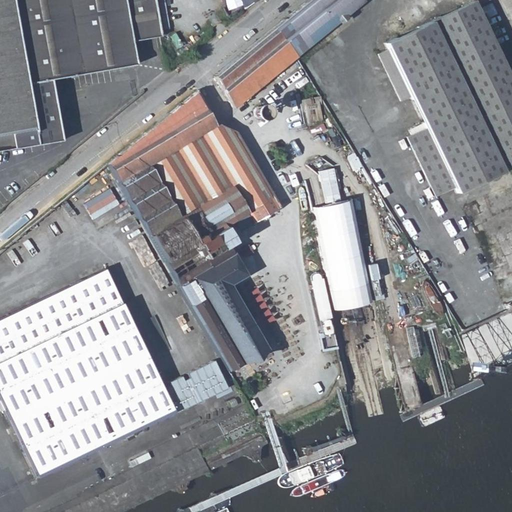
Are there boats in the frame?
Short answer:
Yes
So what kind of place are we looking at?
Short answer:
industrial area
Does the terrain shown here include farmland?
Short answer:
No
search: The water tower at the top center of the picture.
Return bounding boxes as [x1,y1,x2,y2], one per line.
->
[254,104,277,120]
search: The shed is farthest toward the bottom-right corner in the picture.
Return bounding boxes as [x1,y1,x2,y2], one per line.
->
[406,325,426,358]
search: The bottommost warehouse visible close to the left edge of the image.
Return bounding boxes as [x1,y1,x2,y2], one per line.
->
[0,268,178,478]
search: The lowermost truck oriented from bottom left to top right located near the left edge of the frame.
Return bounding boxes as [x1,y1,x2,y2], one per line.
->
[0,210,34,242]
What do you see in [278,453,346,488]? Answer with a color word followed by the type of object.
white boat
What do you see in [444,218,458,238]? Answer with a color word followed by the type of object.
white vehicle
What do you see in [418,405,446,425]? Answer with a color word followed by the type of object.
white boat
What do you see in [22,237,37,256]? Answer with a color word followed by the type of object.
white vehicle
